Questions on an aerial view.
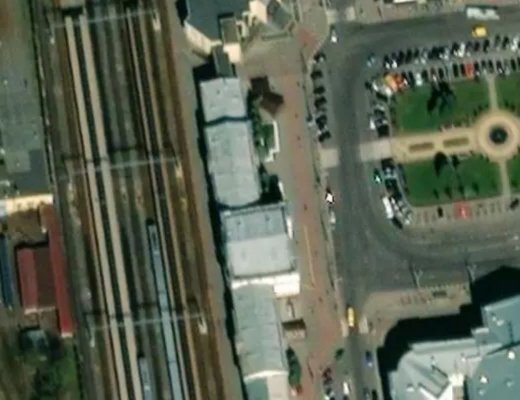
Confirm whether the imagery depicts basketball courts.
No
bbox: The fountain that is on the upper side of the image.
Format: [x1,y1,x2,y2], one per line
[488,124,508,145]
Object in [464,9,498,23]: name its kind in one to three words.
vehicle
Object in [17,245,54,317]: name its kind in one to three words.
shed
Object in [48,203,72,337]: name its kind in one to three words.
shed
